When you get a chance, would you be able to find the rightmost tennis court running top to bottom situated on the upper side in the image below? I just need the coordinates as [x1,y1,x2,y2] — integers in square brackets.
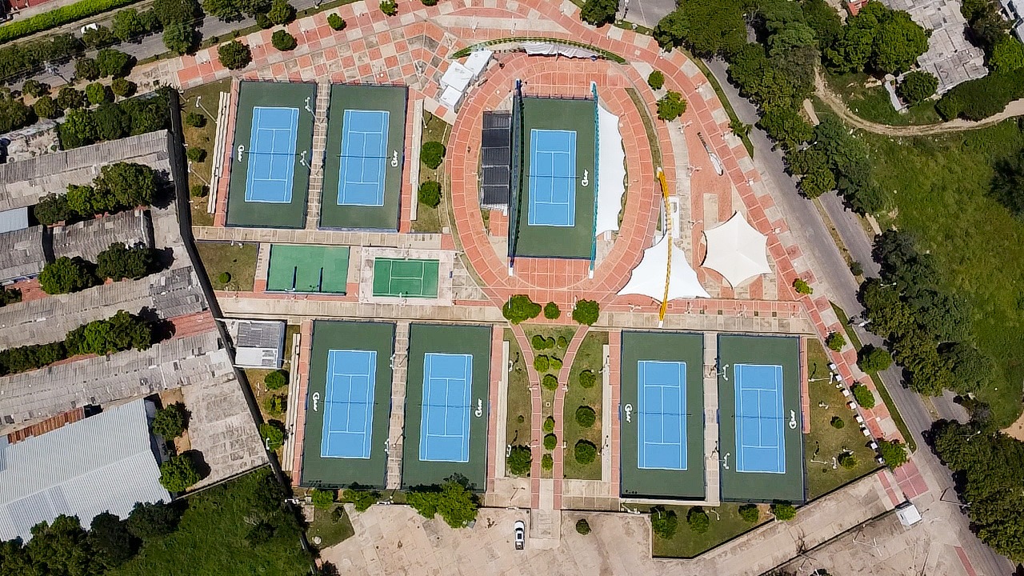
[518,97,593,258]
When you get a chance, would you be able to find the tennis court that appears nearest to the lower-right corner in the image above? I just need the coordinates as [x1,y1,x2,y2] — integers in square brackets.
[717,336,804,502]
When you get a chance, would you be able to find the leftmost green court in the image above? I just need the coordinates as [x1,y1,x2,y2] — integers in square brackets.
[262,242,350,296]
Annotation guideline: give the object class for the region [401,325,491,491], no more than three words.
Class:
tennis court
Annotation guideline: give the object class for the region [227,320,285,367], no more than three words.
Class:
building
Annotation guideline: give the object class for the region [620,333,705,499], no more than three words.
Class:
tennis court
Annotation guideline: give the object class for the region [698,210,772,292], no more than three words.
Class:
tent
